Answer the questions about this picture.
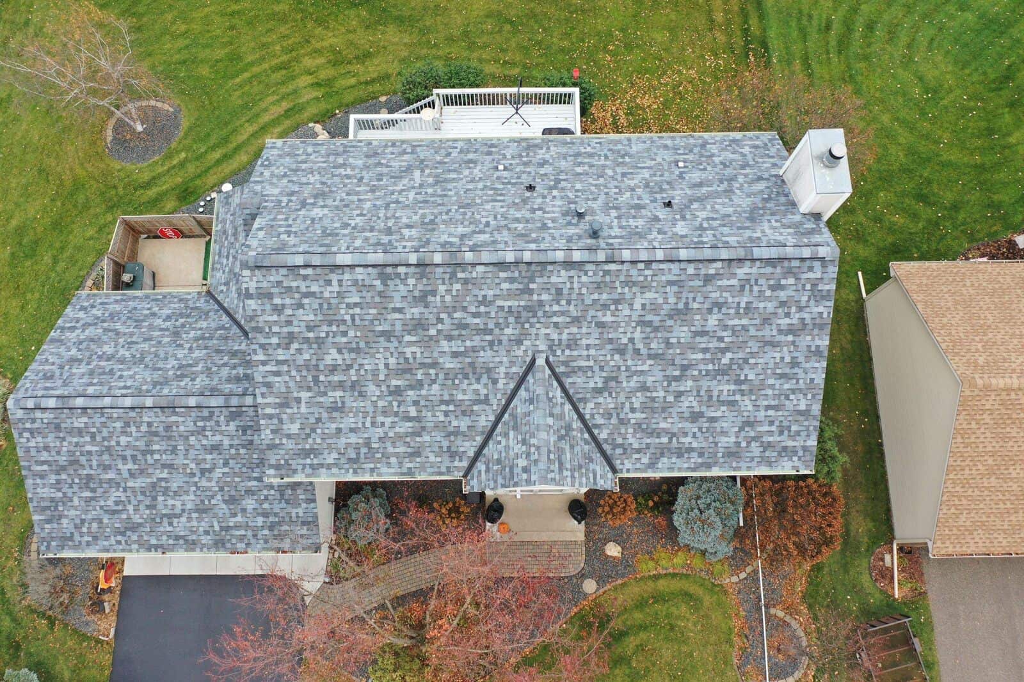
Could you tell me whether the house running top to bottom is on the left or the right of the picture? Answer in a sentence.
It is on the right.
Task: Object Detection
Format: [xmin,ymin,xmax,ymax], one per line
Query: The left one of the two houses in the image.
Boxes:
[8,129,853,557]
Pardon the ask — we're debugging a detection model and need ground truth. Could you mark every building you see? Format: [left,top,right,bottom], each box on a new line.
[8,129,853,557]
[858,260,1024,596]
